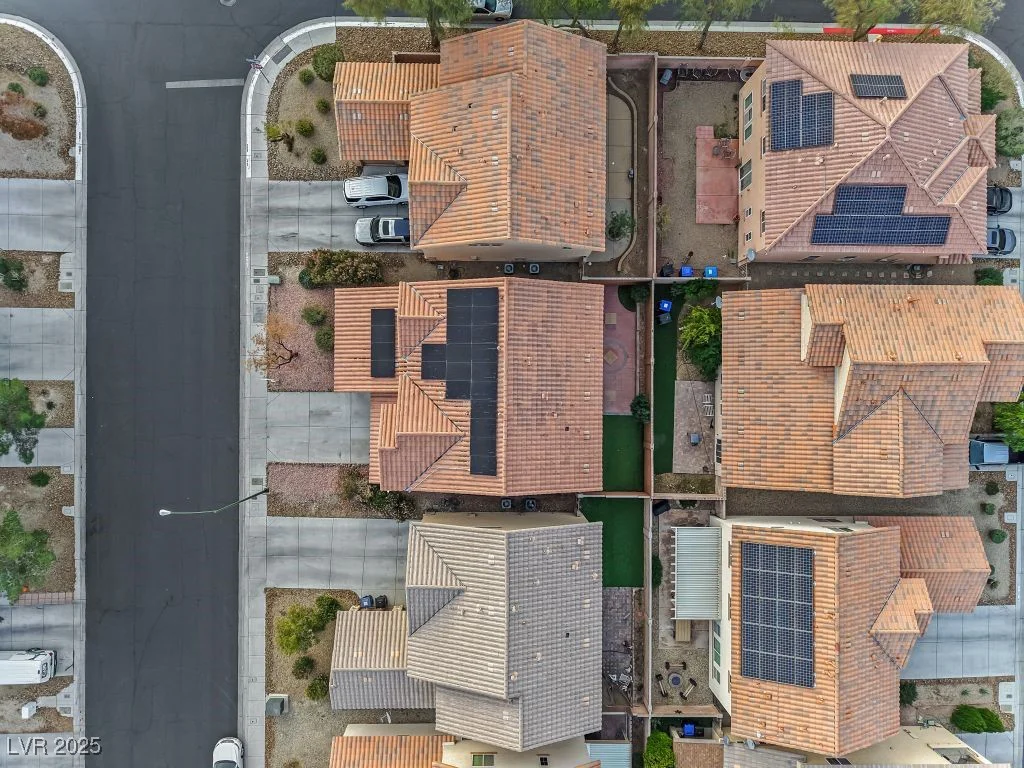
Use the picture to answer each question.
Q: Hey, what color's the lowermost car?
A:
white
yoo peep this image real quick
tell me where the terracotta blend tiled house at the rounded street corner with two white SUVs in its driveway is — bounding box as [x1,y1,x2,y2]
[334,18,607,262]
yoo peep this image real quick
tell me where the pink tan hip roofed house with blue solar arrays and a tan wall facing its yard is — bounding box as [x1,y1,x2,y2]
[740,38,998,272]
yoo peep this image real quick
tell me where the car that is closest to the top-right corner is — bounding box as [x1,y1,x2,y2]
[987,185,1012,218]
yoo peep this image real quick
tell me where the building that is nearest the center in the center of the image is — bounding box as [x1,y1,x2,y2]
[333,275,605,496]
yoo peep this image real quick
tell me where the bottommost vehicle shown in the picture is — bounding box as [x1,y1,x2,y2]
[212,735,248,768]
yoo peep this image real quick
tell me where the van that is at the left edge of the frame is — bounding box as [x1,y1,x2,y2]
[0,647,56,684]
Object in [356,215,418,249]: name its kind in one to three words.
car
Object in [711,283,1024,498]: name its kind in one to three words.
house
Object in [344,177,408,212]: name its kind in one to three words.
car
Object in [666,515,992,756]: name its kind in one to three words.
house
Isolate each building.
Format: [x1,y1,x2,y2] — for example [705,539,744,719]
[334,18,607,262]
[711,283,1024,498]
[330,511,603,753]
[740,38,998,272]
[333,275,605,496]
[666,515,992,756]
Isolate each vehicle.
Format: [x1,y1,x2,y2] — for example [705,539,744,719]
[469,0,514,23]
[972,224,1016,257]
[987,185,1012,218]
[344,177,408,212]
[356,215,418,249]
[969,437,1024,464]
[212,735,248,768]
[0,647,56,684]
